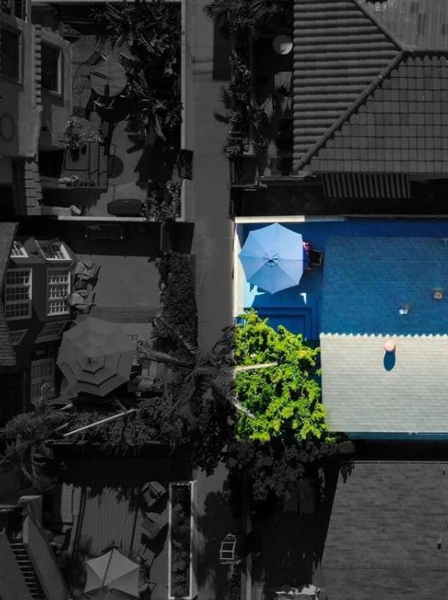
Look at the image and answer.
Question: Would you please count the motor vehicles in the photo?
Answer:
0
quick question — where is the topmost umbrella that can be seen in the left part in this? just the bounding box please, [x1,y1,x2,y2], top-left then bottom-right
[58,316,139,398]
